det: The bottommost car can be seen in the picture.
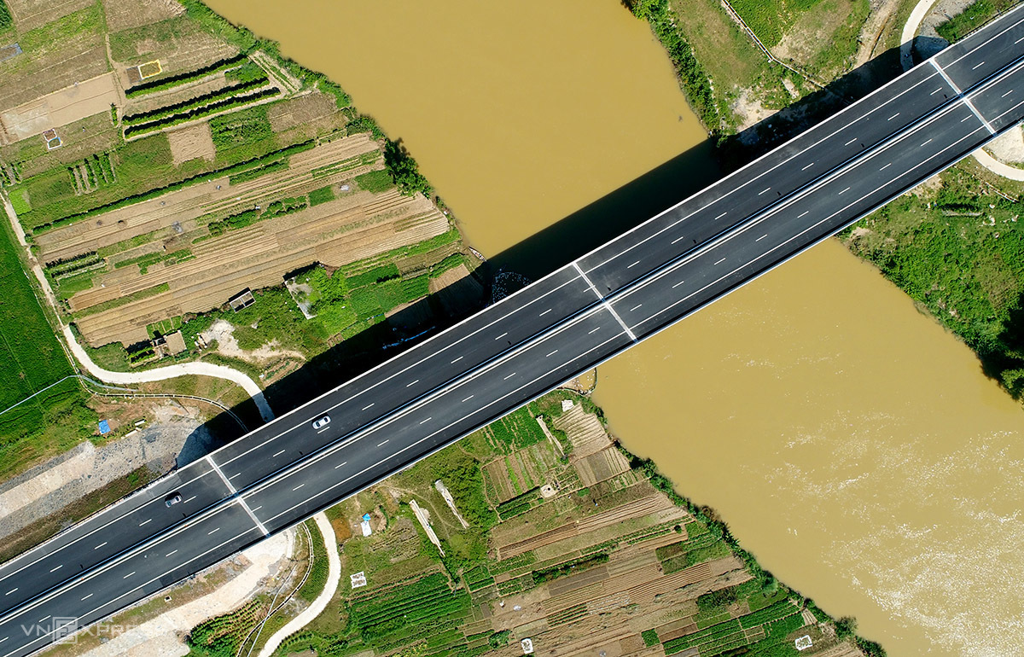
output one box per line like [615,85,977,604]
[165,492,183,505]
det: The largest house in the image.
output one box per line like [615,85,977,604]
[285,265,322,319]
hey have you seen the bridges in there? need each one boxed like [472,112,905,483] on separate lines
[183,40,1016,560]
